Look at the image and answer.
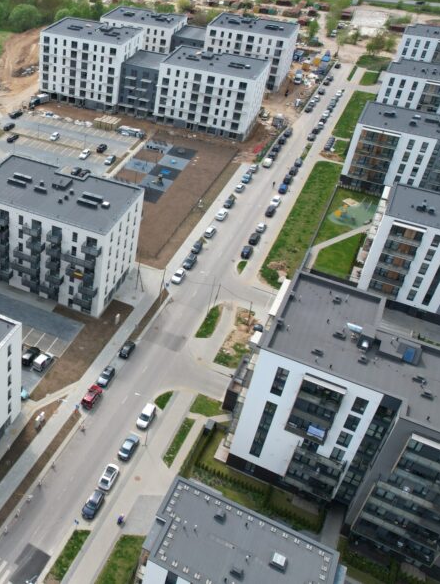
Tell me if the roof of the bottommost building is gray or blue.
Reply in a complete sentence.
In this view, the roof of the bottommost building is gray.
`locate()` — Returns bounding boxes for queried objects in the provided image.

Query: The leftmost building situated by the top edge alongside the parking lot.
[39,16,143,109]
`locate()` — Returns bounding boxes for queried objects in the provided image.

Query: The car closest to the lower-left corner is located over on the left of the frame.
[87,493,111,523]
